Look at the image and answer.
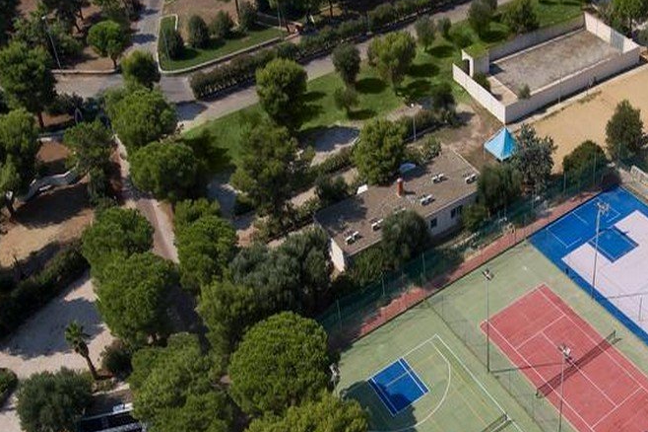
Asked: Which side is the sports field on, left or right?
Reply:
right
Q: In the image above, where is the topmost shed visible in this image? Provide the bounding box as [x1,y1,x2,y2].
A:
[445,44,489,79]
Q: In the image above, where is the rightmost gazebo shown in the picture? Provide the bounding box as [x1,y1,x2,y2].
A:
[484,132,511,162]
